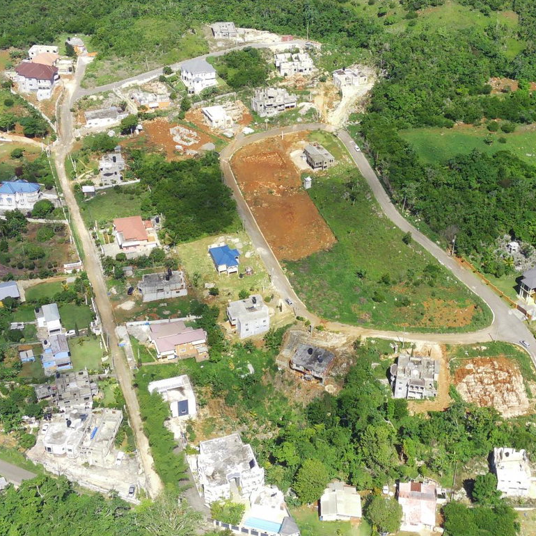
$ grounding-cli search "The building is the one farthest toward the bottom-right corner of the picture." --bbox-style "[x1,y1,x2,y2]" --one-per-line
[491,447,529,496]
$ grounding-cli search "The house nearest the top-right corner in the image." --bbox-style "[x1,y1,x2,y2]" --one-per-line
[334,68,366,84]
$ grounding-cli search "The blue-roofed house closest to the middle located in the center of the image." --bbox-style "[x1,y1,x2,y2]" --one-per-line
[212,247,239,274]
